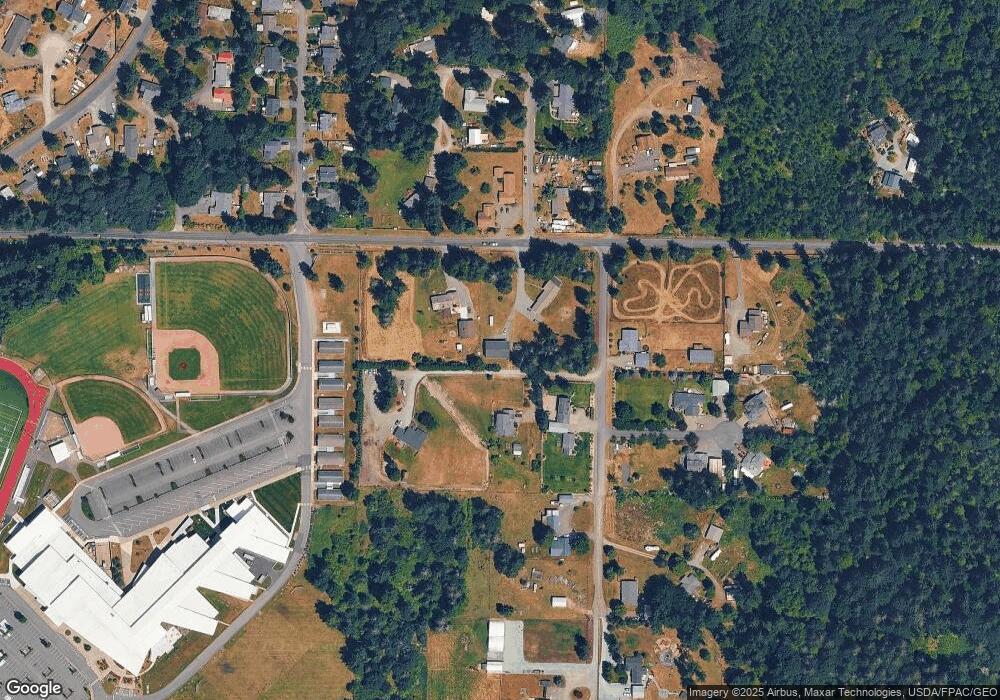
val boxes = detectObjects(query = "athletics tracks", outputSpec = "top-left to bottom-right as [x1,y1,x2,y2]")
[0,356,49,522]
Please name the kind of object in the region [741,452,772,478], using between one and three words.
house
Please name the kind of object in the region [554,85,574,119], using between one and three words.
house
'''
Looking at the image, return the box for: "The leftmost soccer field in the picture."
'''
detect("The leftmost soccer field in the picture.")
[0,369,29,490]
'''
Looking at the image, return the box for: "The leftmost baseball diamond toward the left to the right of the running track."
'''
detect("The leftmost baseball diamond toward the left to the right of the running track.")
[57,375,166,462]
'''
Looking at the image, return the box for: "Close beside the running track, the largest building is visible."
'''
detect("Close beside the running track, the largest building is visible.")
[4,498,293,676]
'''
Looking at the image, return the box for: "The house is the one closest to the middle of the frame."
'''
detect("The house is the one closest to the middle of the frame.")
[485,339,508,357]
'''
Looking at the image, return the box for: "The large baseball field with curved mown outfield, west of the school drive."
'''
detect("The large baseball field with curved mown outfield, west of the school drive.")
[150,256,291,394]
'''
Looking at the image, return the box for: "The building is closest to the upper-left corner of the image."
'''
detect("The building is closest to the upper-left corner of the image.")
[0,15,30,55]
